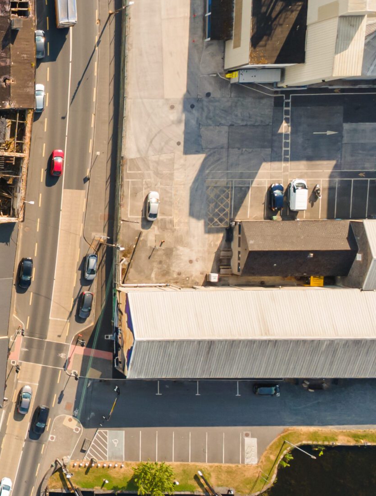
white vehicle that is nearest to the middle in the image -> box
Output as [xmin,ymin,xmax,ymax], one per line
[144,191,159,221]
